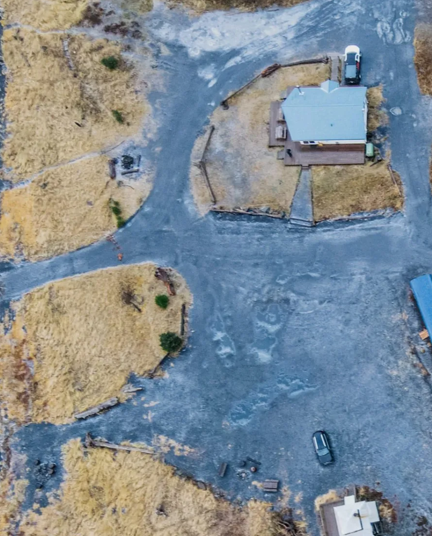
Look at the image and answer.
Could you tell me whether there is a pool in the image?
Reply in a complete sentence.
No, no pool can be seen from above.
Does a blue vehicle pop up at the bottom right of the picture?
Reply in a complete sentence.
Yes, a blue vehicle appears at the bottom right of the picture.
